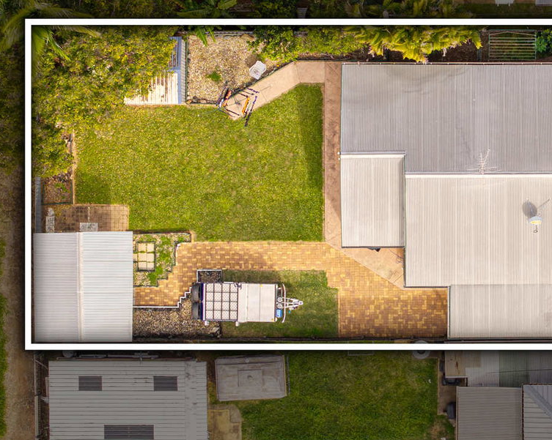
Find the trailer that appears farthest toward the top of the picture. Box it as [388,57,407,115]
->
[191,282,303,327]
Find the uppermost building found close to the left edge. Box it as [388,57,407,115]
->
[27,231,134,345]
